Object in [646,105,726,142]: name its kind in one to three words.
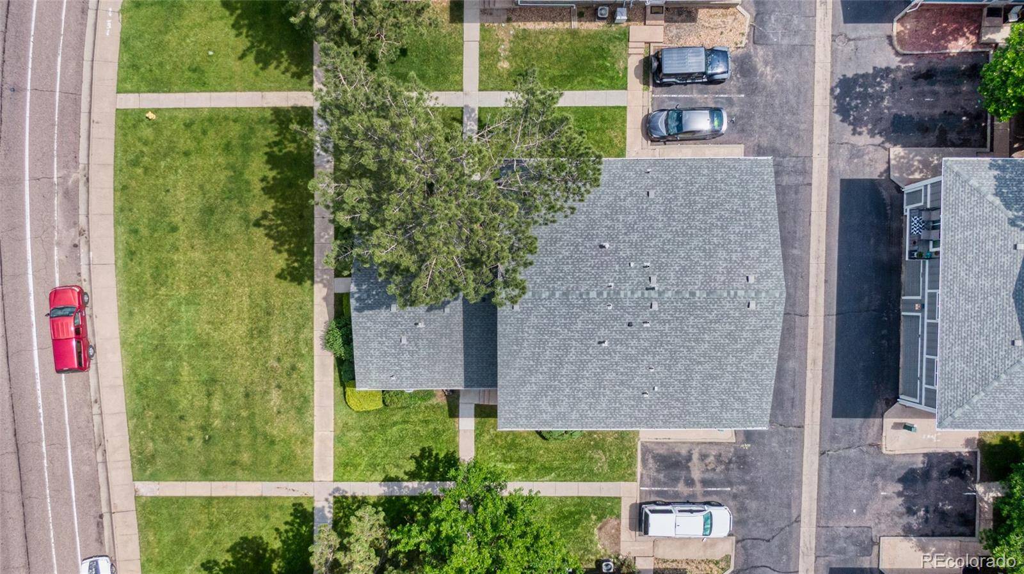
car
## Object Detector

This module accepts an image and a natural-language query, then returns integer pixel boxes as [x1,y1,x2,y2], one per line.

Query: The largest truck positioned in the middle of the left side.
[47,282,94,374]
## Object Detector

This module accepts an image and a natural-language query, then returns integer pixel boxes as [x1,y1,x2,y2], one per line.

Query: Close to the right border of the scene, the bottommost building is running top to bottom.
[897,156,1024,431]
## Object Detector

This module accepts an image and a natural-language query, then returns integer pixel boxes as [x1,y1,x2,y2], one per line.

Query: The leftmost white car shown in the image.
[83,552,117,574]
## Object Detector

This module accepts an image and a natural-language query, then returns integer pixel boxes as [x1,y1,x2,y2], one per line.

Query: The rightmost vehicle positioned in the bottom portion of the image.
[636,501,731,540]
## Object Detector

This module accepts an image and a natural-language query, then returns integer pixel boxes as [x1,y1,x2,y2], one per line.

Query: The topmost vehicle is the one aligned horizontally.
[650,47,729,84]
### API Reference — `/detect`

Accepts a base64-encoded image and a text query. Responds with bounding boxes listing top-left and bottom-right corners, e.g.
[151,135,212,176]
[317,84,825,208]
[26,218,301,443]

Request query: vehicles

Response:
[83,552,117,574]
[636,501,731,540]
[650,47,729,84]
[47,282,94,374]
[646,105,726,142]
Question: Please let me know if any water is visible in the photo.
No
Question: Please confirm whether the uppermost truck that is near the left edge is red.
Yes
